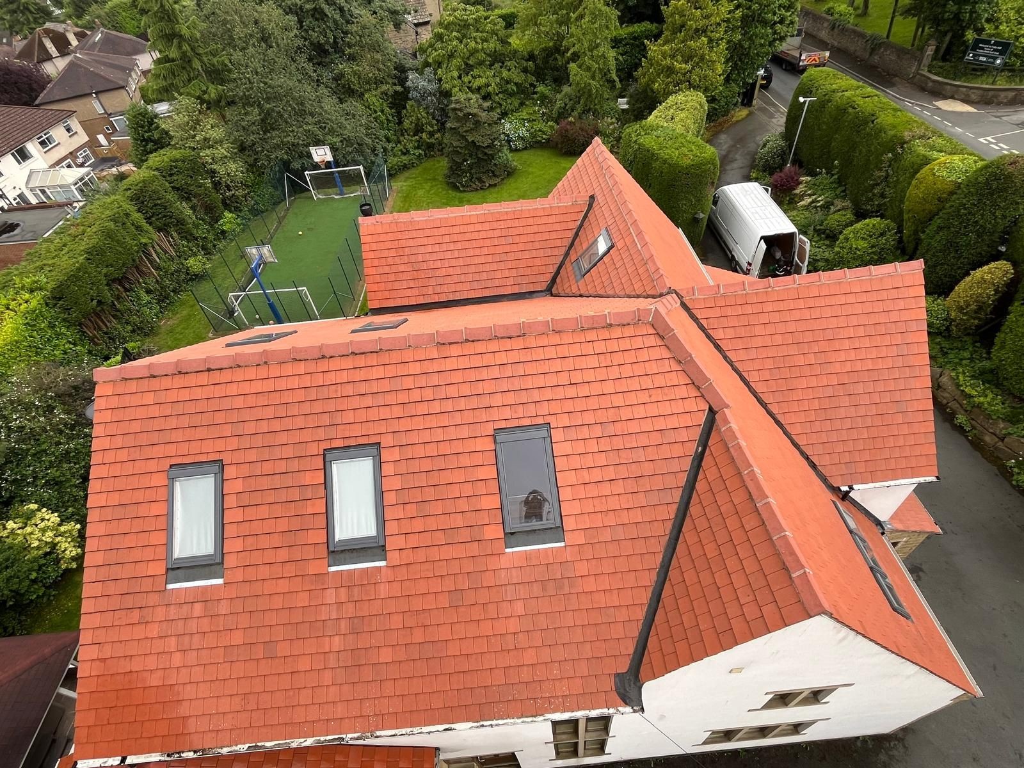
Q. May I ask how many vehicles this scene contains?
3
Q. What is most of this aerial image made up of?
buildings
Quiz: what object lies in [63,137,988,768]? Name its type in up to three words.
house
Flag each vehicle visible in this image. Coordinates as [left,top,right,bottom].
[778,23,829,68]
[743,60,779,84]
[713,183,826,278]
